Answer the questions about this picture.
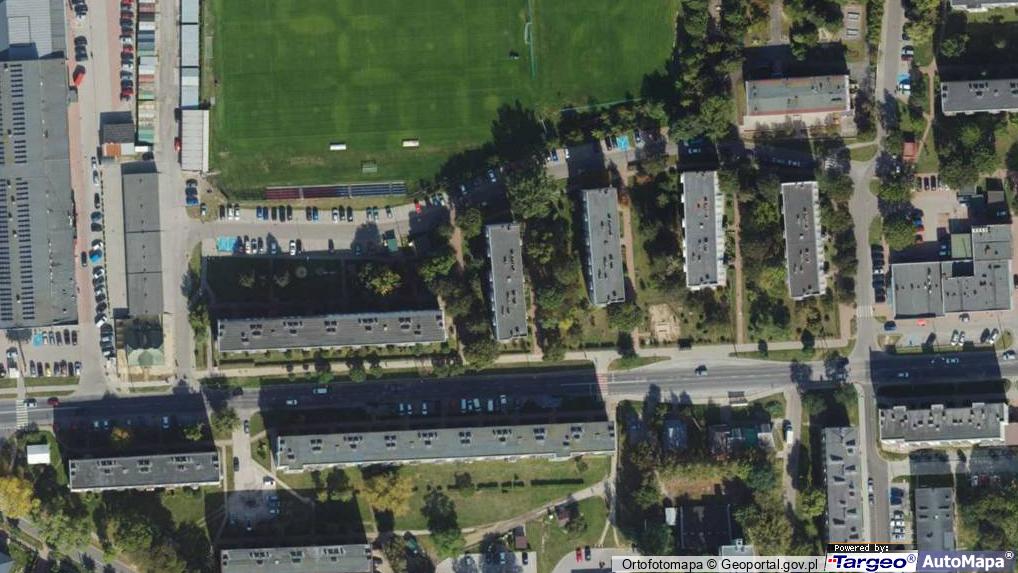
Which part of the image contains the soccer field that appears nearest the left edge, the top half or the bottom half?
top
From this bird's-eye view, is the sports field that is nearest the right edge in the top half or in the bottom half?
top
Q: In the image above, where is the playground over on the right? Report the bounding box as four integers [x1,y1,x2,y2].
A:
[650,301,678,341]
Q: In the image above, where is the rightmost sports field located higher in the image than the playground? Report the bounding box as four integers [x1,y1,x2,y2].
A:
[533,0,683,147]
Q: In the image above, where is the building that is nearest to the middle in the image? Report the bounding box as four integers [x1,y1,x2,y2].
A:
[487,223,531,342]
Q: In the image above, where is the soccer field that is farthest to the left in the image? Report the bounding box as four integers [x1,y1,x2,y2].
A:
[209,0,535,196]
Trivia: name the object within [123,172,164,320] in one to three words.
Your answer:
shed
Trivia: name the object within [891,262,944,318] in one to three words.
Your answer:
building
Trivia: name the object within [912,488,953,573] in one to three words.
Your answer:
house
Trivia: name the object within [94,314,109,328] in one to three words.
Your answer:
vehicle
